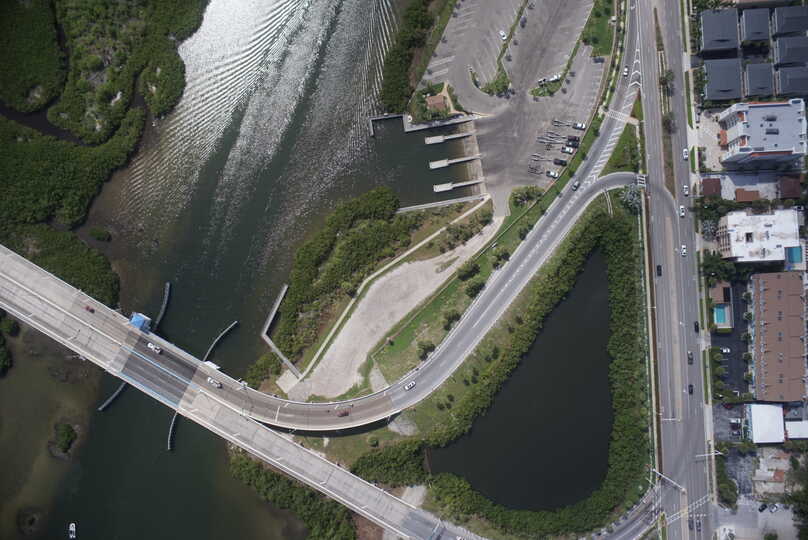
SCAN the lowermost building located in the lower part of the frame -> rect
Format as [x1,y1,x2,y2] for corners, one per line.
[750,468,786,482]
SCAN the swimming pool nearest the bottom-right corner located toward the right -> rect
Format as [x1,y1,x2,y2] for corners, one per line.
[712,302,734,328]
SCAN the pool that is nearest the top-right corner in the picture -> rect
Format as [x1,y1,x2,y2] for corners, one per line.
[784,244,806,270]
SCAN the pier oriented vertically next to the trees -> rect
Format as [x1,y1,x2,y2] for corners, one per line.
[262,285,301,379]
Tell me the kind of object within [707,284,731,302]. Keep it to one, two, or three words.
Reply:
building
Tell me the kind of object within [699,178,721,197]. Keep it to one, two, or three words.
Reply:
house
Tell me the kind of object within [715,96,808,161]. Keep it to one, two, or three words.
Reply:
building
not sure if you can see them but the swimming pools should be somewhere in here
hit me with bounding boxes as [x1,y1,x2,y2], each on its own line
[784,244,806,270]
[712,302,734,328]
